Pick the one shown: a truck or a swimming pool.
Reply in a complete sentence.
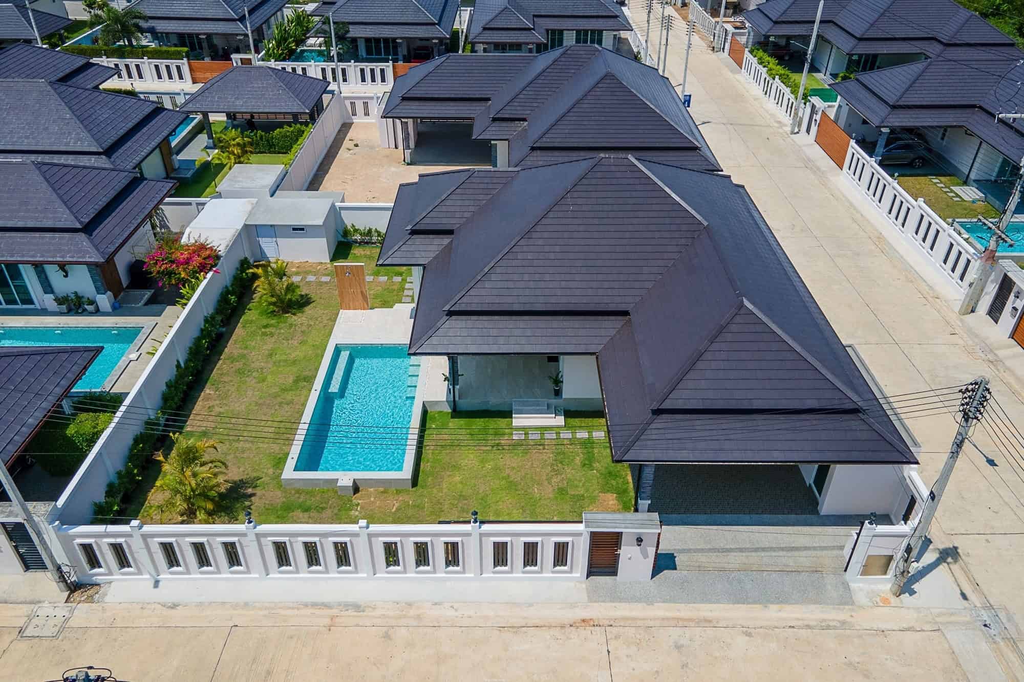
It is a swimming pool that can be seen here.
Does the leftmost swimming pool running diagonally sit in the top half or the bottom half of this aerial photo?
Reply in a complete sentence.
The leftmost swimming pool running diagonally sits in the top half of the picture.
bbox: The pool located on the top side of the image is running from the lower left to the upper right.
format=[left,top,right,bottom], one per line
[170,119,199,151]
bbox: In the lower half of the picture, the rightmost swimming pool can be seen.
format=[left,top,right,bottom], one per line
[277,340,431,495]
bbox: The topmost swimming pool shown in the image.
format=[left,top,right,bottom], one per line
[290,48,346,62]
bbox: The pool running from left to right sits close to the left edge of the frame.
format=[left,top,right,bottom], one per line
[0,322,157,377]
